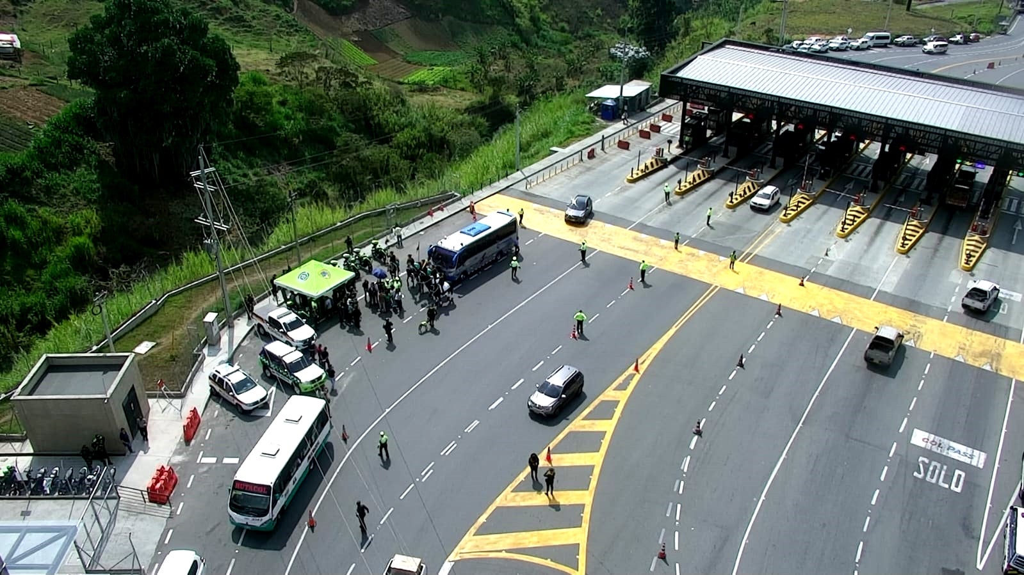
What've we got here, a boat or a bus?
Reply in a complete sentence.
The one in the frame is a bus.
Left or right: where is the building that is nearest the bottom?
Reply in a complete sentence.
The building that is nearest the bottom is on the left side of the image.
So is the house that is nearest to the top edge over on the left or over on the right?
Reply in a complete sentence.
You can find the house that is nearest to the top edge on the left side of the picture.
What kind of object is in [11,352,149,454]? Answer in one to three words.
building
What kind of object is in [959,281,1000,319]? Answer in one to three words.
truck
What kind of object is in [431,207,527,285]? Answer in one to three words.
bus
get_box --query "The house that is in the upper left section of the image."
[0,32,30,61]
